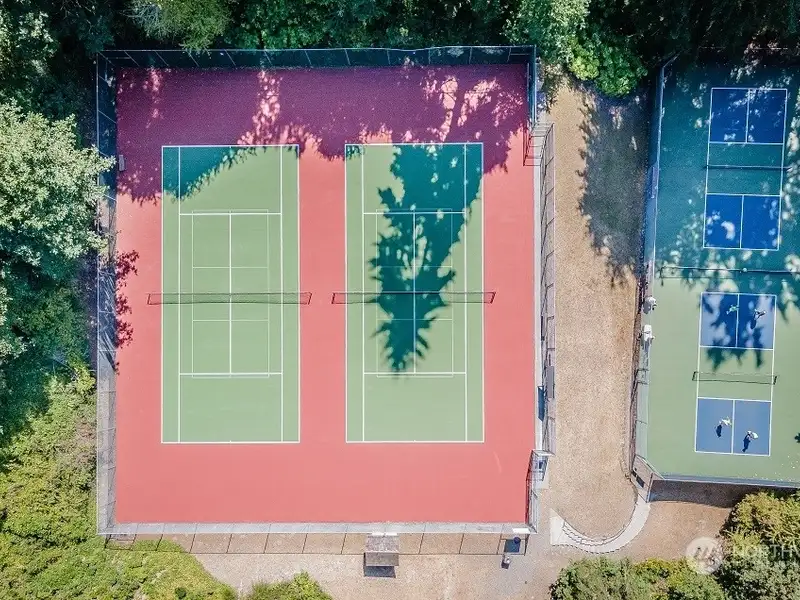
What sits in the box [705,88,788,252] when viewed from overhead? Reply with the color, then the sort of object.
blue sports court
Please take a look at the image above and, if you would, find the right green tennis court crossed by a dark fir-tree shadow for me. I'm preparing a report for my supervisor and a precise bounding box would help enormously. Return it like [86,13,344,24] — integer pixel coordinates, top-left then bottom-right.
[345,143,484,443]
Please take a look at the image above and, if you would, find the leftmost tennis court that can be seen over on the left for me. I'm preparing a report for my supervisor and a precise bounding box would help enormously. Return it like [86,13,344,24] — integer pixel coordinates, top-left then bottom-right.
[162,145,299,443]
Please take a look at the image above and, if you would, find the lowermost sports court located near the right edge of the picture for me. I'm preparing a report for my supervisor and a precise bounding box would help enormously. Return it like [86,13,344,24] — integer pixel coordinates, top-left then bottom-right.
[695,292,778,459]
